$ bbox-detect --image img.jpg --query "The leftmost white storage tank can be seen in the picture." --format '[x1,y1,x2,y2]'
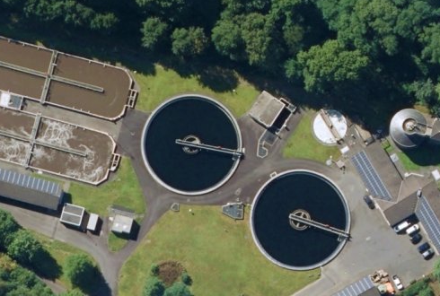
[312,108,347,146]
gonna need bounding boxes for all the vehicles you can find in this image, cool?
[405,224,420,236]
[363,195,376,209]
[417,241,432,252]
[421,248,436,259]
[392,275,404,291]
[409,233,424,244]
[393,220,411,233]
